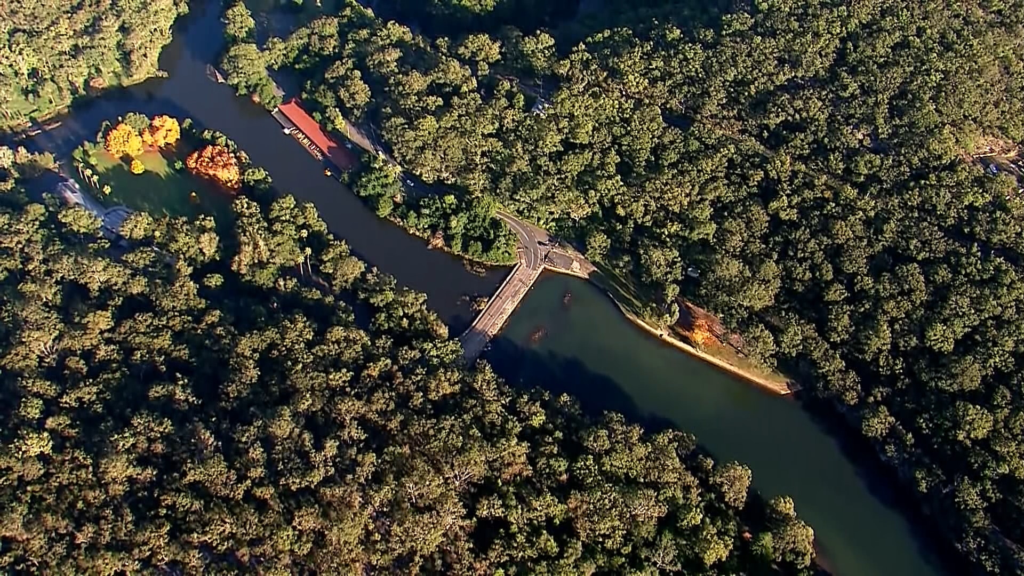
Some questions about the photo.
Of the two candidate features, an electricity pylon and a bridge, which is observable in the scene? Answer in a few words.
bridge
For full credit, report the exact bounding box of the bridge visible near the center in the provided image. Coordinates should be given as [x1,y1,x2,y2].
[462,245,543,358]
